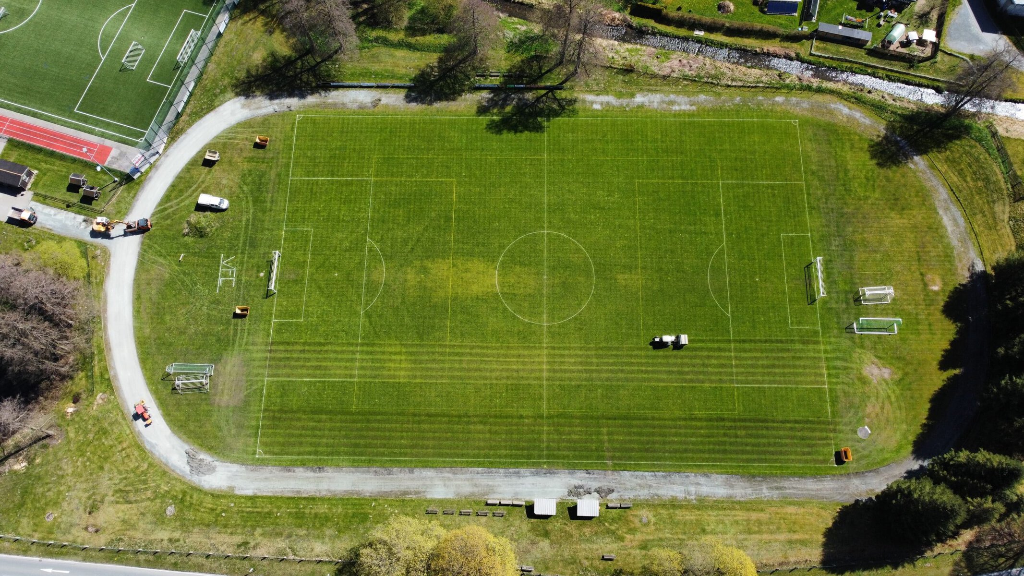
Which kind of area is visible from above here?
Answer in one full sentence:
This image shows a sports ground.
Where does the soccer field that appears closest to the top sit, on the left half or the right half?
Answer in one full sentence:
The soccer field that appears closest to the top sits on the left side.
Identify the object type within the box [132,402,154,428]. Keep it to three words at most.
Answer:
work vehicle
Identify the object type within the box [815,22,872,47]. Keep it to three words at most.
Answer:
shed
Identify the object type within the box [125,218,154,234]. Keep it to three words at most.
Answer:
vehicle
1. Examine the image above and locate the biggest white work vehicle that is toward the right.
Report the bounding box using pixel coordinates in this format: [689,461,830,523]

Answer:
[655,334,677,347]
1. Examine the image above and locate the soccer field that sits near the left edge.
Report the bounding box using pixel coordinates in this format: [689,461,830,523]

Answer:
[0,0,223,150]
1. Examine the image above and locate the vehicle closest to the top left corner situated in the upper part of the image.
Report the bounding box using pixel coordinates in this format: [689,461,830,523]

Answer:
[6,208,39,226]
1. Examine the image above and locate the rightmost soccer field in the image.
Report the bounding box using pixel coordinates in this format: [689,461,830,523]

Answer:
[241,111,887,479]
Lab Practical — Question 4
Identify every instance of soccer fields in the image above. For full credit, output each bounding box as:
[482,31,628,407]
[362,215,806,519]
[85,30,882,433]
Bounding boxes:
[0,0,223,150]
[241,111,887,479]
